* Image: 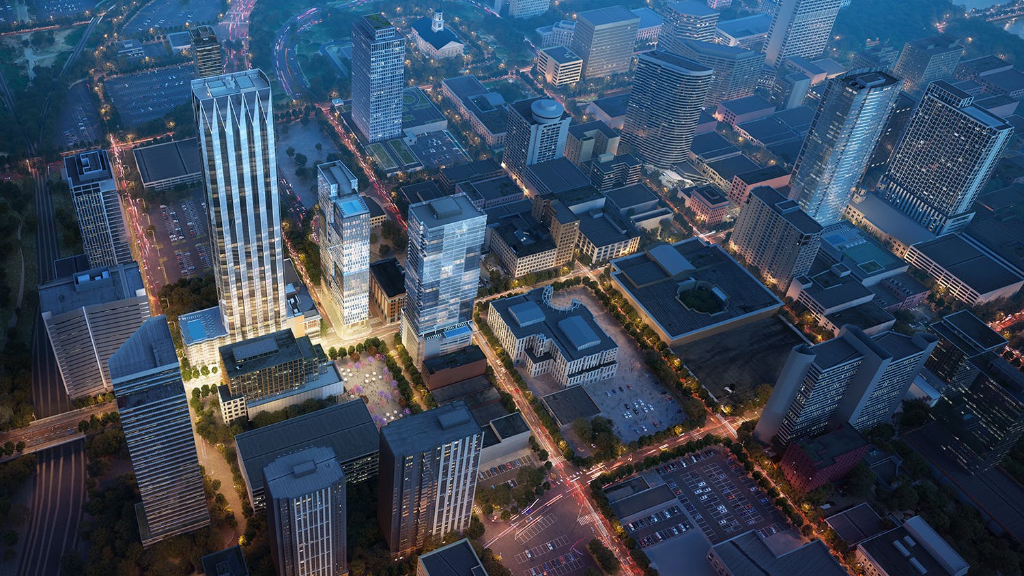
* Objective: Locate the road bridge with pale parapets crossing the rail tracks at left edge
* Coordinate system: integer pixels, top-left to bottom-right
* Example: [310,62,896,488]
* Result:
[0,389,121,455]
